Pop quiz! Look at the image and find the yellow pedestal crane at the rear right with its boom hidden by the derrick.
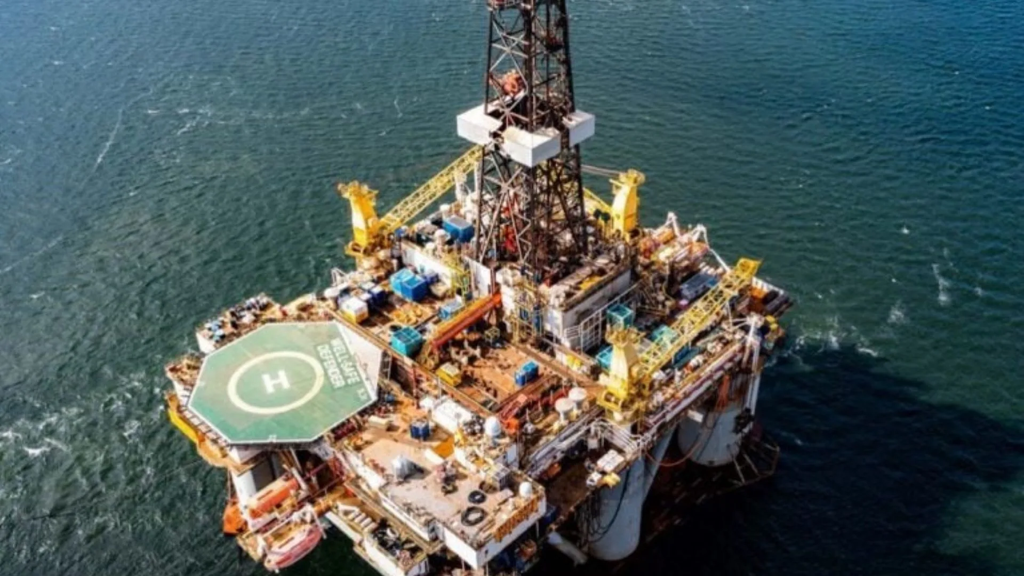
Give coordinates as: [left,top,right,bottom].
[535,151,648,239]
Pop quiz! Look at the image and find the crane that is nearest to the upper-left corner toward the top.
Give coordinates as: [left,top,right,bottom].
[338,148,493,266]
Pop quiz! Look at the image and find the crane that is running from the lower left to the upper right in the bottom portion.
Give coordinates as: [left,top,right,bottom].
[591,265,759,439]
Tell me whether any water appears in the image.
Yes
